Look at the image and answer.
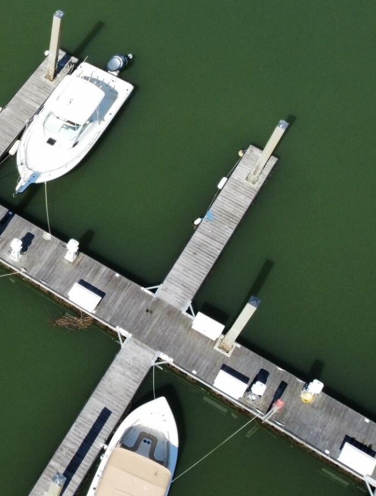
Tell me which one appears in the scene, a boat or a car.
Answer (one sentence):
Of the two, only a boat appears.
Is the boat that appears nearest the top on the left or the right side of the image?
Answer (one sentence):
You can find the boat that appears nearest the top on the left side of the picture.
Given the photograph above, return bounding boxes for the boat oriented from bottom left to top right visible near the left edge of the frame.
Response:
[12,53,134,186]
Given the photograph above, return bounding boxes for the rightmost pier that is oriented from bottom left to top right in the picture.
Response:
[141,146,277,318]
